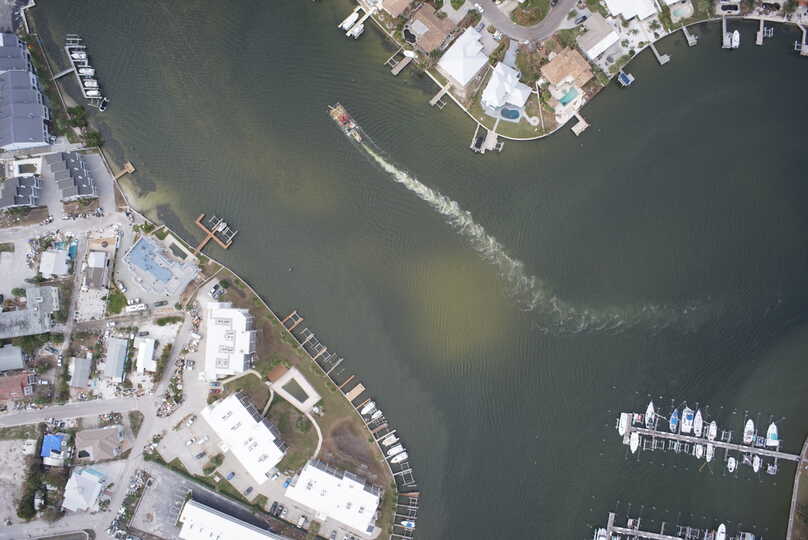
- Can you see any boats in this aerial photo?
Yes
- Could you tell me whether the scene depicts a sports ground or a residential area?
residential area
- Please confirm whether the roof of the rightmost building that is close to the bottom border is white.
Yes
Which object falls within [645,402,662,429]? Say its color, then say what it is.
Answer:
white boat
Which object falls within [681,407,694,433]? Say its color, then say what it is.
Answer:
white boat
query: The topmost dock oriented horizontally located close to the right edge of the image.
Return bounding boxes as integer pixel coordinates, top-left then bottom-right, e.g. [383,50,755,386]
[624,413,801,464]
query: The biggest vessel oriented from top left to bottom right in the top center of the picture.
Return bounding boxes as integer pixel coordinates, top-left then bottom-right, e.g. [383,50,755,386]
[325,101,357,135]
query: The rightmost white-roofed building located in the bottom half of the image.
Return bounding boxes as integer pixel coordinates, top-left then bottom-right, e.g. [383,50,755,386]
[284,456,381,534]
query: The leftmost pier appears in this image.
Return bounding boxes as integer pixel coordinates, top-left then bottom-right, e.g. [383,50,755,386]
[54,44,103,99]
